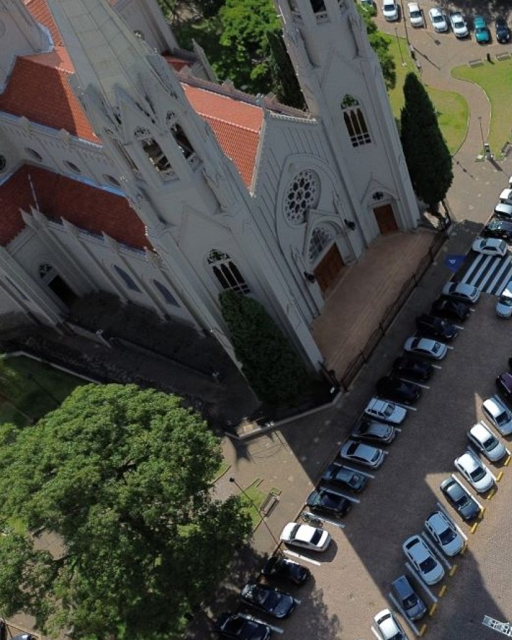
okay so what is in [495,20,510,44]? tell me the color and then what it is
black car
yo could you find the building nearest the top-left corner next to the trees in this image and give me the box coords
[0,0,419,371]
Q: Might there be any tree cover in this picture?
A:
Yes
